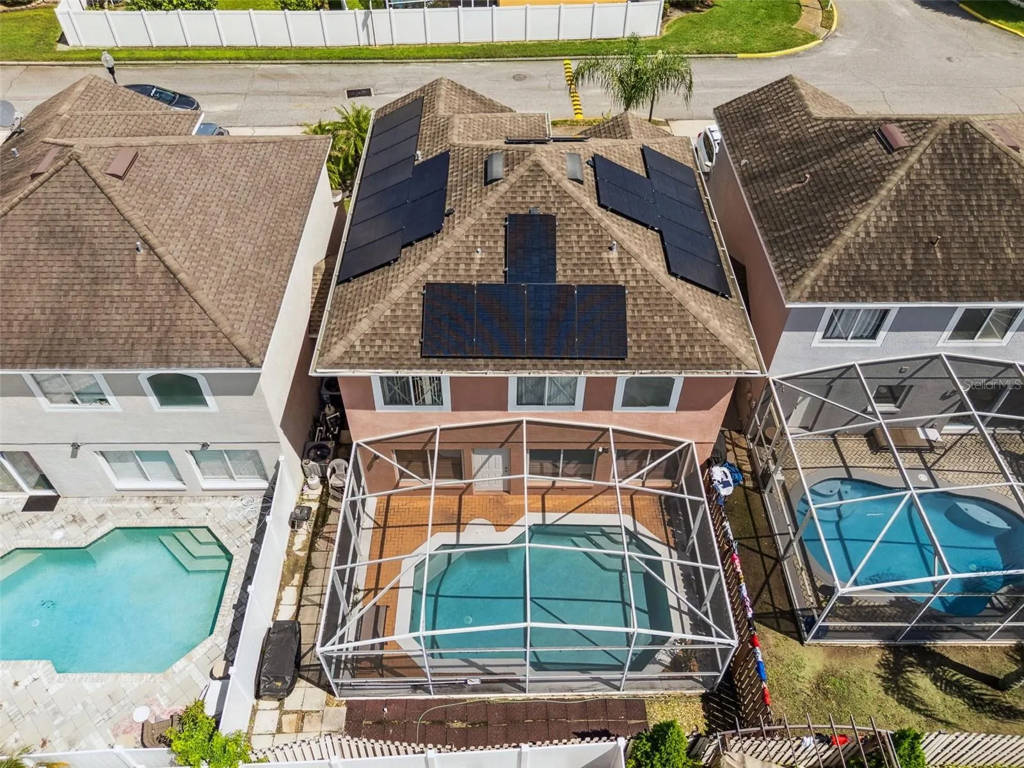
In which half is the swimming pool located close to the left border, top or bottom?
bottom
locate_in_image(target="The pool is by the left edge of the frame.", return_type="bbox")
[0,515,243,684]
